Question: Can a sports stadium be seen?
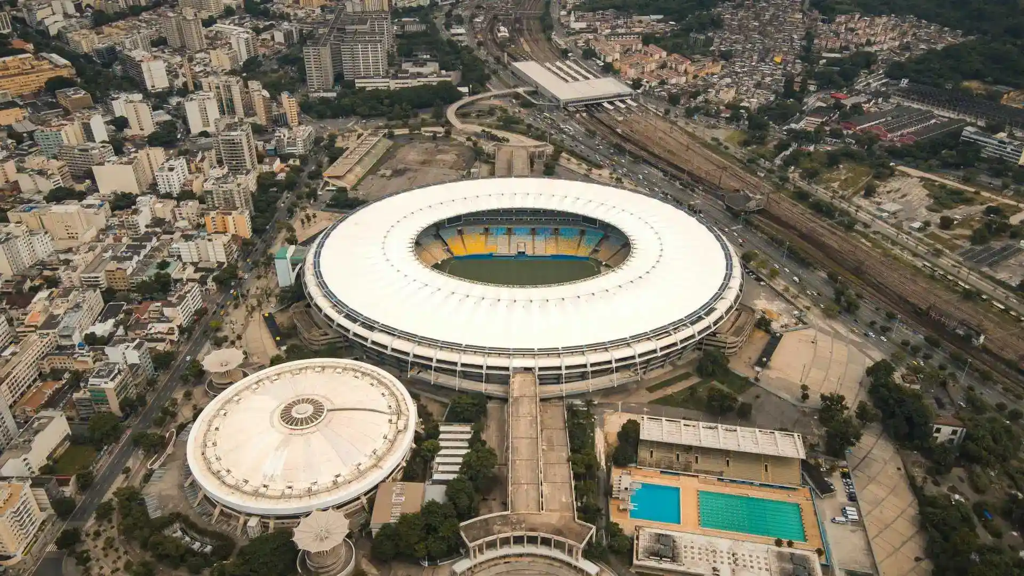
Yes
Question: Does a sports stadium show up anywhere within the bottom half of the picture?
Yes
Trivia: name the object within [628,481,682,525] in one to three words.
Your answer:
swimming pool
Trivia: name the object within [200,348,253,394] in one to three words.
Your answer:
building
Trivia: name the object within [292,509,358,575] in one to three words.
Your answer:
building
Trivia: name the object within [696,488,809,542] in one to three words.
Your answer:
swimming pool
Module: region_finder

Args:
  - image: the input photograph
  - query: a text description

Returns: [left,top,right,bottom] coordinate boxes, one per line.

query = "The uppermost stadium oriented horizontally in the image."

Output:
[297,175,749,398]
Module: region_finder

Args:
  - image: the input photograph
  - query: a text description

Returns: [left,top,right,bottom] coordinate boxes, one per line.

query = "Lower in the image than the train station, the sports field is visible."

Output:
[443,259,601,287]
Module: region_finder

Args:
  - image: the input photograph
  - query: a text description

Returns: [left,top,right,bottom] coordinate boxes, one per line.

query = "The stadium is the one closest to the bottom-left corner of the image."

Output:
[186,359,420,534]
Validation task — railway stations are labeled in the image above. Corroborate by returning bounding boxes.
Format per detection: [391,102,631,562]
[512,61,634,110]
